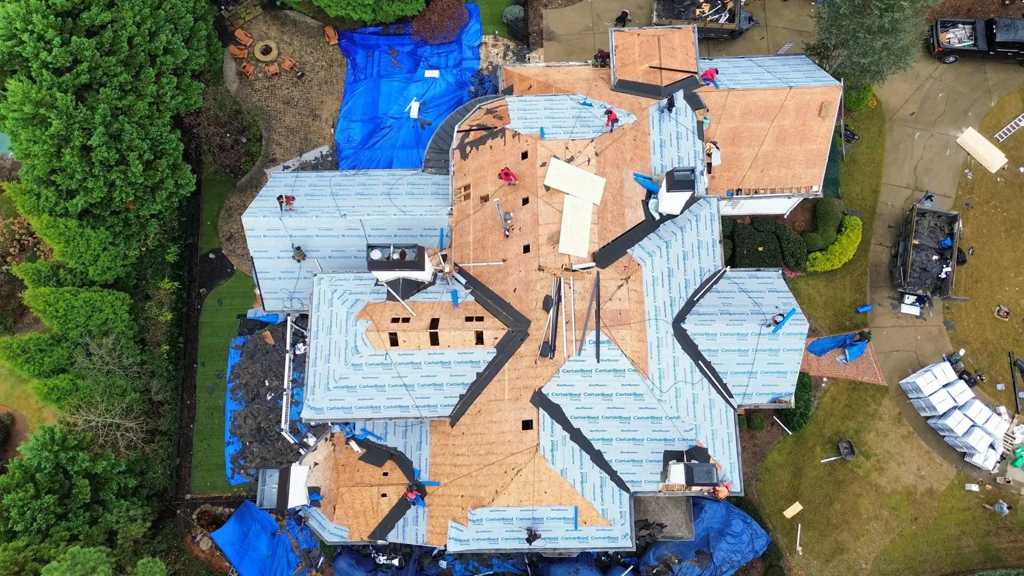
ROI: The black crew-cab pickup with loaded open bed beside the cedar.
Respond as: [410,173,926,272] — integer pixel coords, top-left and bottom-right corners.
[926,14,1024,63]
